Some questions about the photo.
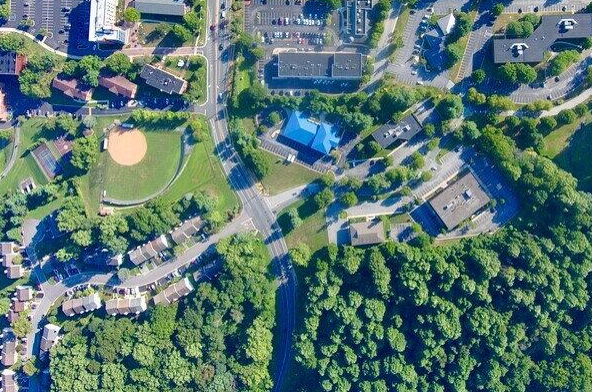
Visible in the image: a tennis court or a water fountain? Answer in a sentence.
Looking from above, you can make out a tennis court.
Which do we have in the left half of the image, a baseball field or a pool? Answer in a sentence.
Visible in the left half of the image is a baseball field.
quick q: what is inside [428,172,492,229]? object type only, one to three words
building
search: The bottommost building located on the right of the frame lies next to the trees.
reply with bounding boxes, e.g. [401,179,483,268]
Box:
[350,216,385,245]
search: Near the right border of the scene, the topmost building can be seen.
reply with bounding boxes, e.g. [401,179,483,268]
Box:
[491,14,592,65]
